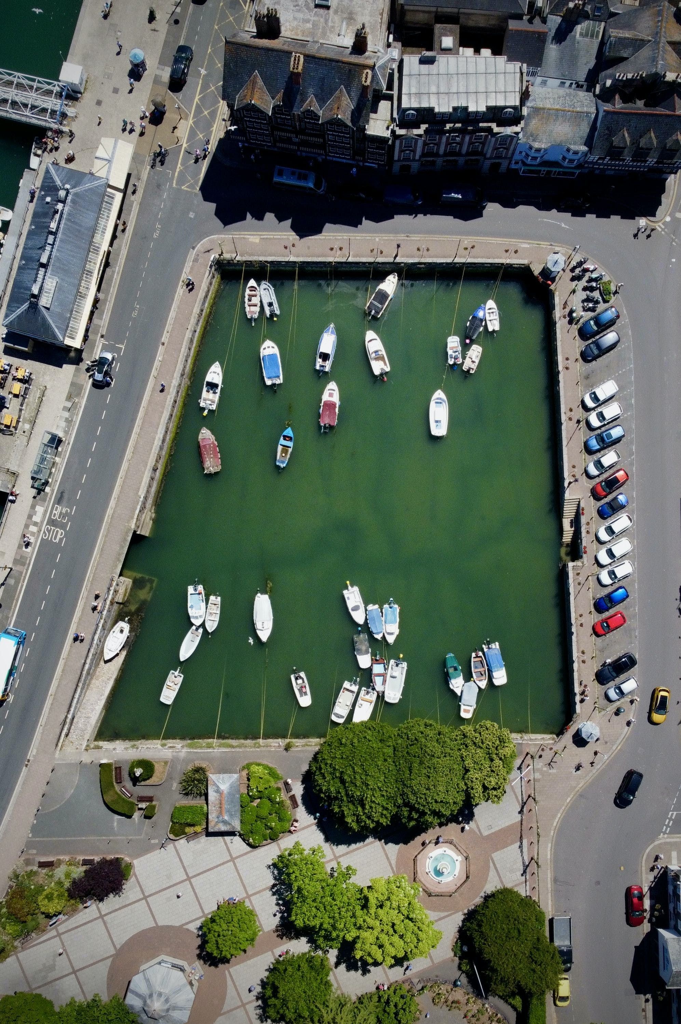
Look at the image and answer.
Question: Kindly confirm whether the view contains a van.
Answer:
Yes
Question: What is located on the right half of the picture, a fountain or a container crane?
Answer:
fountain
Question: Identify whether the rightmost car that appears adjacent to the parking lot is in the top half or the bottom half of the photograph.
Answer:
bottom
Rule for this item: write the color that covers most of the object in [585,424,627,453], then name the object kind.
blue car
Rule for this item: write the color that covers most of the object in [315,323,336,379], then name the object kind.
white boat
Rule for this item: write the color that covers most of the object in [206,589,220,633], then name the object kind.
white boat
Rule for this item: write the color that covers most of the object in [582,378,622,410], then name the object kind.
white van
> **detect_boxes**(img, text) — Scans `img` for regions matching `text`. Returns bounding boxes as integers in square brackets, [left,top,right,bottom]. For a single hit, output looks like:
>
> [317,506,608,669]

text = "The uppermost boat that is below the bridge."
[30,137,42,170]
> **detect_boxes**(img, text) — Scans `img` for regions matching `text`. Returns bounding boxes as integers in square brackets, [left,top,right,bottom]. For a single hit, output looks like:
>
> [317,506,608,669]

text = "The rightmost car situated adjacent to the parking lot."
[649,687,672,724]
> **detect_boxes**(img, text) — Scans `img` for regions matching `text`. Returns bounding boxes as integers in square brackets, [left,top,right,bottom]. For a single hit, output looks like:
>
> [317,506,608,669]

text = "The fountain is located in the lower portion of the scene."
[413,835,474,901]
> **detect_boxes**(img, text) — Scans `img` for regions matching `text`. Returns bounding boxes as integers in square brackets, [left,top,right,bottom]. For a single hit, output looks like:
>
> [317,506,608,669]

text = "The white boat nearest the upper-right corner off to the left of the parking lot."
[487,300,499,338]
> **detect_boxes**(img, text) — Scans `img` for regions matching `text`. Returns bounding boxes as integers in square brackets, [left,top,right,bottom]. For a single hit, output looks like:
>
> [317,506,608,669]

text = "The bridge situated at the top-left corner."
[0,69,78,133]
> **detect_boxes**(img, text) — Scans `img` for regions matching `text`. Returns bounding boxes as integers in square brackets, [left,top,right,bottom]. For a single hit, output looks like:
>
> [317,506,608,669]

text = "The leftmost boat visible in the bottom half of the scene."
[104,616,130,661]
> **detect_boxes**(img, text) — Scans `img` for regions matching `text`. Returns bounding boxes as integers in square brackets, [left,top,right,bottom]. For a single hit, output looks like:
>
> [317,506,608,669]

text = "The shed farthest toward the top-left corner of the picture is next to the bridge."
[49,36,90,99]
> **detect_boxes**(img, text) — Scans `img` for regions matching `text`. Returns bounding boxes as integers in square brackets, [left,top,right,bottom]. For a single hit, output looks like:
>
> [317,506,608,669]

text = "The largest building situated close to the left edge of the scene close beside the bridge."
[2,162,123,353]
